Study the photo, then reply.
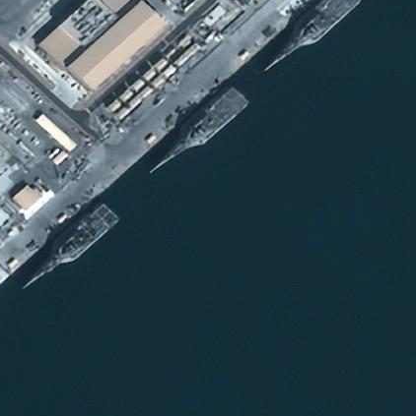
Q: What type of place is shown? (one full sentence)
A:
What you see here is a port.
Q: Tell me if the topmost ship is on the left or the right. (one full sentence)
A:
You can find the topmost ship on the right side of the picture.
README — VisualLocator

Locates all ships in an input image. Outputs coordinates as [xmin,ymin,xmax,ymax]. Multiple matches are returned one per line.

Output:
[264,0,364,71]
[136,83,250,172]
[20,197,120,288]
